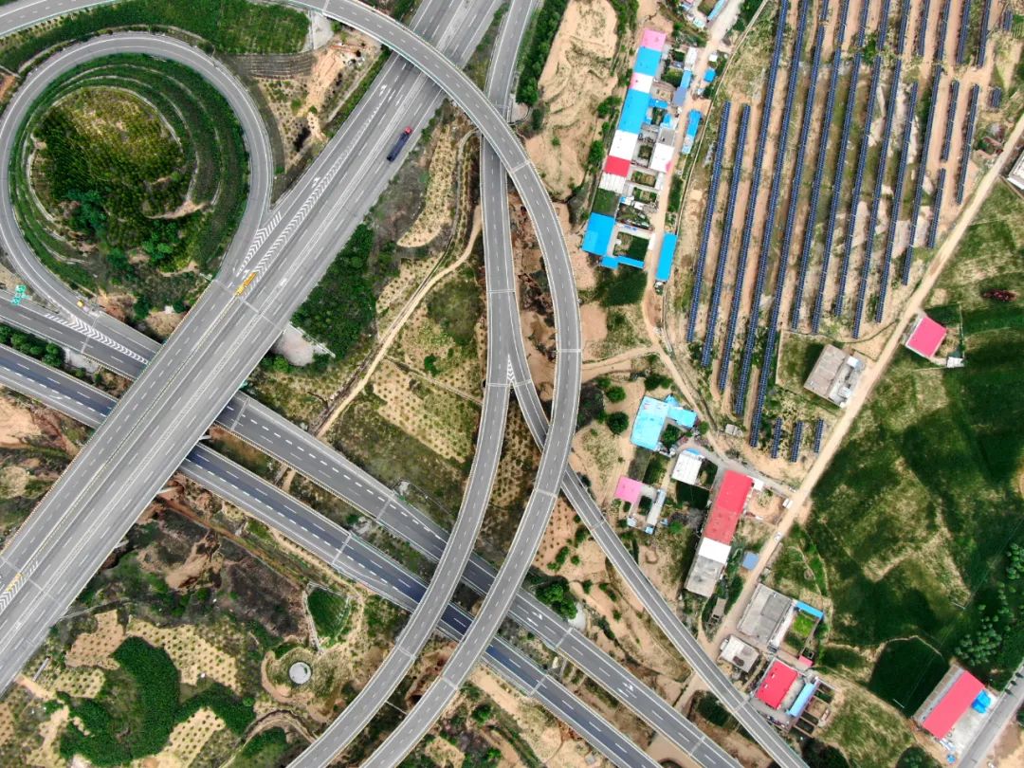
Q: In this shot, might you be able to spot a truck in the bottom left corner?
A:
No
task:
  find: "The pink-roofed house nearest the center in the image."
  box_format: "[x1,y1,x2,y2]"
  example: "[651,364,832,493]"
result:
[614,476,643,503]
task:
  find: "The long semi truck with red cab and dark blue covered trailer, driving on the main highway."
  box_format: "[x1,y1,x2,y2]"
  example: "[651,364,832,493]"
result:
[385,124,414,161]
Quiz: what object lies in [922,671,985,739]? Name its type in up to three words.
building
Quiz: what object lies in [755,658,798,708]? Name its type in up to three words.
house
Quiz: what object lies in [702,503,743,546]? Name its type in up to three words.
building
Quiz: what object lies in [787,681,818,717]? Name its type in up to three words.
shed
